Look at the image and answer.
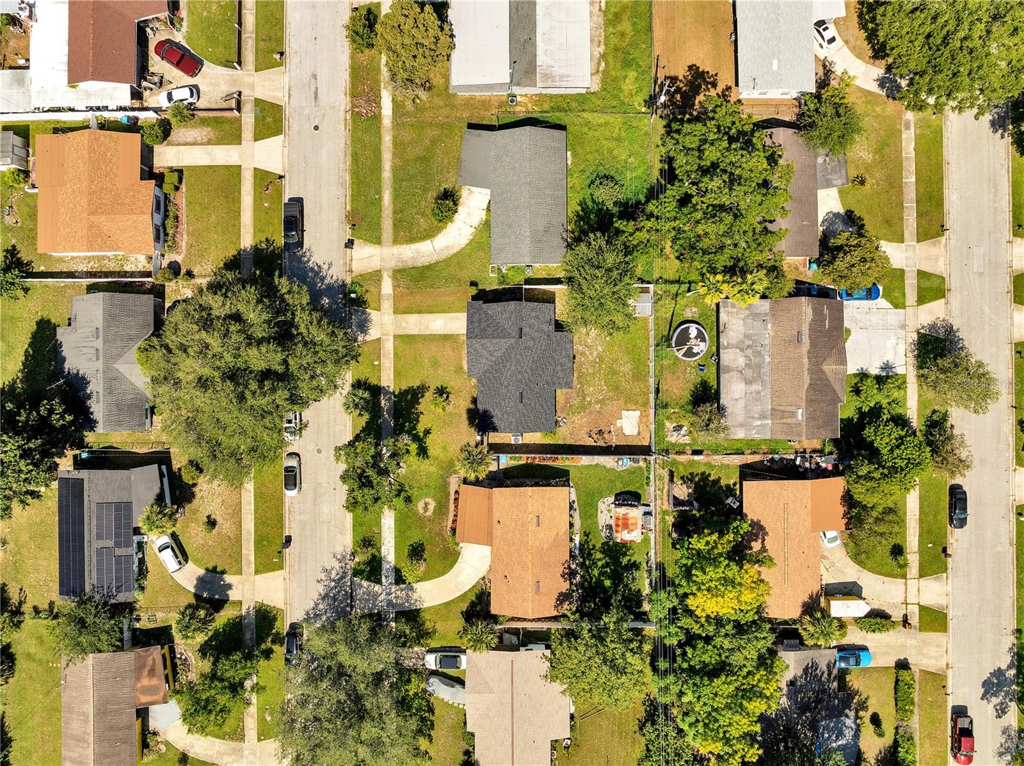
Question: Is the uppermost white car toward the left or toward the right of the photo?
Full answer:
You can find the uppermost white car on the right side of the picture.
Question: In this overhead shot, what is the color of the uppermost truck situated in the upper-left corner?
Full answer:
The uppermost truck situated in the upper-left corner looks red in the image.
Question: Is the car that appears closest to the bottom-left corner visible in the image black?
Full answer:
No, the car that appears closest to the bottom-left corner is white.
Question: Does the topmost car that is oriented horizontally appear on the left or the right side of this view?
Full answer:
The topmost car that is oriented horizontally appears in the left half of the scene.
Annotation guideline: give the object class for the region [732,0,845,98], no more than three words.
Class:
house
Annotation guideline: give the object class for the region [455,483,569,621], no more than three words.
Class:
house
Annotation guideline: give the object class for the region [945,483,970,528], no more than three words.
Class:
car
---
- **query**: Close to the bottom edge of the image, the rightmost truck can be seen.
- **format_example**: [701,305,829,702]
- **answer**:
[948,713,975,765]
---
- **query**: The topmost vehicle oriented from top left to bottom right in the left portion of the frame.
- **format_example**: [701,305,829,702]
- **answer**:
[154,39,209,82]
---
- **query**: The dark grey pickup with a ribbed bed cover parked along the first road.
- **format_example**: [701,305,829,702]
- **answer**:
[281,202,304,252]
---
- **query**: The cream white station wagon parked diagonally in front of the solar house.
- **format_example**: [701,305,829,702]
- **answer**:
[153,530,190,575]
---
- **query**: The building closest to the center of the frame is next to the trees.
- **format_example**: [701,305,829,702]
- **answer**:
[467,302,574,434]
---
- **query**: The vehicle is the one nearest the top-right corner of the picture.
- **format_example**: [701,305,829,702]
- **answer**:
[815,18,841,59]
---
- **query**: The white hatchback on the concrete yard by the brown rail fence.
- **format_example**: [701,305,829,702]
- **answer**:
[159,85,202,106]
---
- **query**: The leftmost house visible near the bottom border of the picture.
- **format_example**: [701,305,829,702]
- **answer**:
[62,618,174,766]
